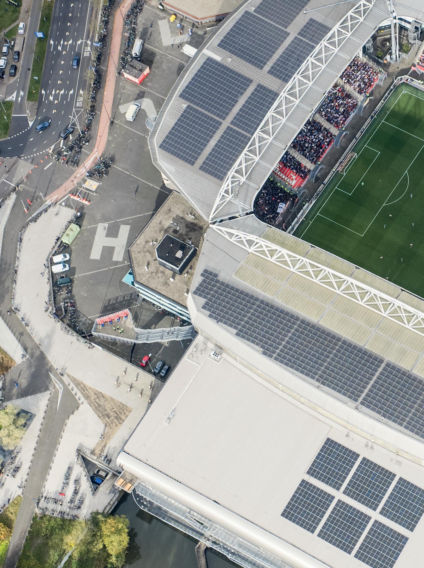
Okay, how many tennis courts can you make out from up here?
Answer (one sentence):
I count no tennis courts.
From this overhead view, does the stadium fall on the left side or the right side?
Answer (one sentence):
The stadium sits on the right side.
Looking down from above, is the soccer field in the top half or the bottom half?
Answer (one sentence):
The top half of the photo is where the soccer field is.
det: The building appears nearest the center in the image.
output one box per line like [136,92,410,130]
[121,191,210,324]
